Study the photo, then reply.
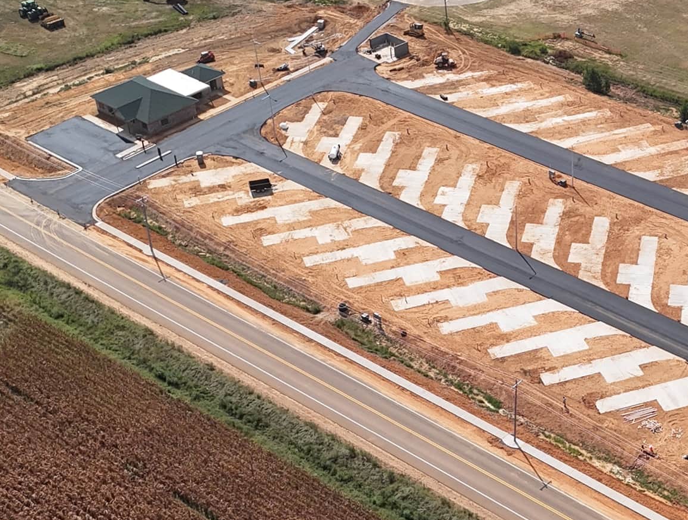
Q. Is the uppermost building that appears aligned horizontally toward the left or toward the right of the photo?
left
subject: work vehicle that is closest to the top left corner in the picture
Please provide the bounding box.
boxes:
[20,0,48,20]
